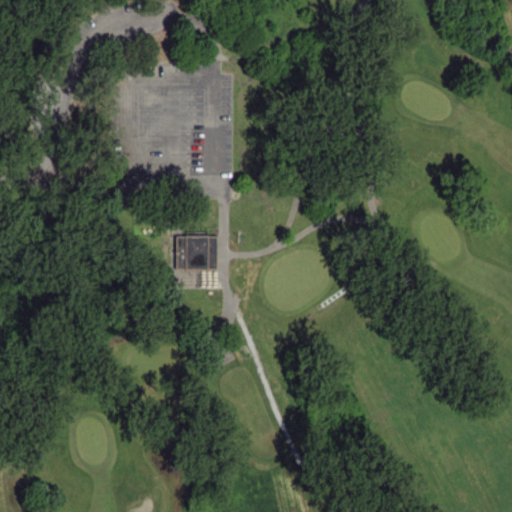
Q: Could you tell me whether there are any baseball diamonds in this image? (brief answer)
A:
No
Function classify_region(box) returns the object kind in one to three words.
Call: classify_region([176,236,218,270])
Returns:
building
